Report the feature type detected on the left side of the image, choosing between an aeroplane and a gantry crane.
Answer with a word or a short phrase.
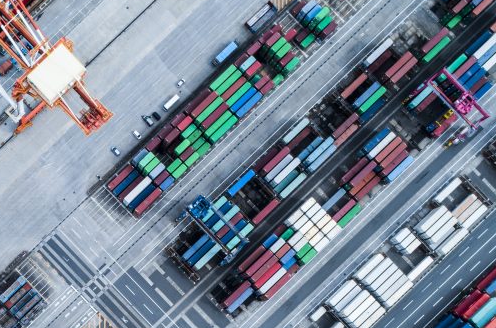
gantry crane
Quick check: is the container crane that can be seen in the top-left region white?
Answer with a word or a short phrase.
Yes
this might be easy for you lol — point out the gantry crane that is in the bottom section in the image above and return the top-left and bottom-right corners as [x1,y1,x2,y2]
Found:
[170,196,248,273]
